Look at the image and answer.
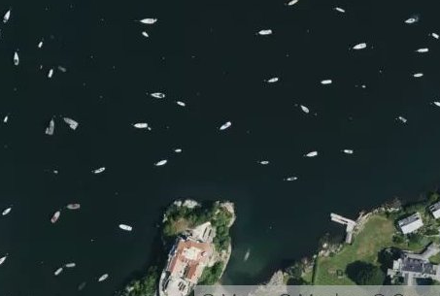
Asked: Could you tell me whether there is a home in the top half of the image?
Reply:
No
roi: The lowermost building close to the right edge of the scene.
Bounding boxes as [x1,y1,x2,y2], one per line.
[389,258,438,291]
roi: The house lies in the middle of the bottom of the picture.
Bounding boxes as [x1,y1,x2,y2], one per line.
[164,237,216,296]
